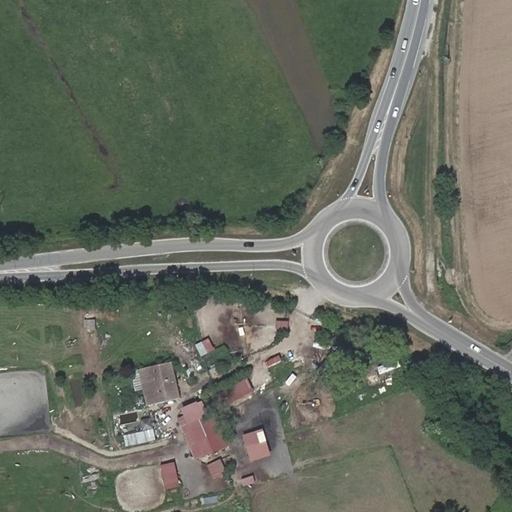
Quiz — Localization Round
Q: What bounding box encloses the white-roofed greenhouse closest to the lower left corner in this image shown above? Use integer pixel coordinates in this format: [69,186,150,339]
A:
[123,428,156,446]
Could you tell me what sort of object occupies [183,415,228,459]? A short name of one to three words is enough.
house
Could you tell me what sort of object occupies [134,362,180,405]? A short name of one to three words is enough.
barn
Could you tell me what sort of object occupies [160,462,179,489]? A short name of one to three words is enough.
shed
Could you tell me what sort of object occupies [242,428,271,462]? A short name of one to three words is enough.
barn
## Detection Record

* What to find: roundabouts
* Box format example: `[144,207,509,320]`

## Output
[302,196,410,307]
